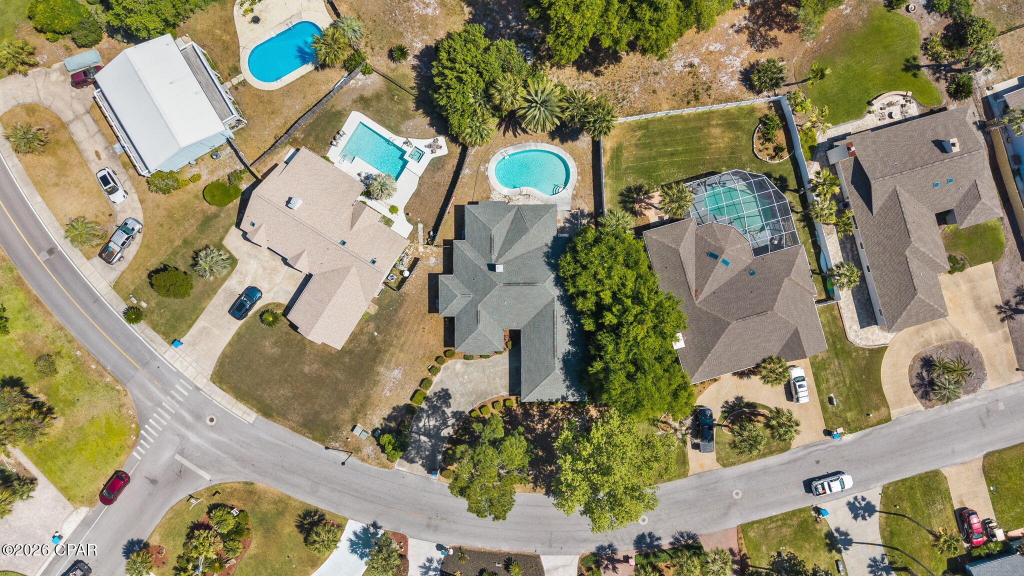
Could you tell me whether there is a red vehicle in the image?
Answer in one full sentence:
Yes, the photo shows a red vehicle.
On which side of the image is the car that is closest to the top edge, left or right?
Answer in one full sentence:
You can find the car that is closest to the top edge on the left side of the picture.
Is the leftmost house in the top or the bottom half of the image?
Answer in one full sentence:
The leftmost house sits in the top half of the picture.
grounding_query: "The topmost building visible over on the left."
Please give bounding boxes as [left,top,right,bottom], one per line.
[89,33,246,177]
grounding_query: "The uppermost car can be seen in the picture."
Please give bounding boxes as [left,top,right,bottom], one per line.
[69,63,105,89]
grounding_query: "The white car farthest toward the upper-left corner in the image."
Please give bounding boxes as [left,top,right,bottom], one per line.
[97,167,128,206]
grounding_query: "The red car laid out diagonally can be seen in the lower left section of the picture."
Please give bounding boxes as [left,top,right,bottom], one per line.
[101,468,131,506]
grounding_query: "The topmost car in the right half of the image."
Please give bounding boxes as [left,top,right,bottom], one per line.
[788,365,811,406]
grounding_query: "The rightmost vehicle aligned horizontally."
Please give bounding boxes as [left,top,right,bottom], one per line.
[809,473,856,498]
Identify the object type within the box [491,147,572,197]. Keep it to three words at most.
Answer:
swimming pool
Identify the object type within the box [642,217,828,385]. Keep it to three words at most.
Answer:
house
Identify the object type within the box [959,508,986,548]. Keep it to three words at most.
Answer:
car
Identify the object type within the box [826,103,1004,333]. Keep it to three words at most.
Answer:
house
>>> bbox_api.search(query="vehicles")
[97,167,128,206]
[69,558,94,576]
[788,365,811,406]
[696,405,716,453]
[101,468,131,506]
[959,508,986,548]
[809,473,856,498]
[987,520,1012,544]
[69,63,105,89]
[98,219,142,264]
[228,285,263,322]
